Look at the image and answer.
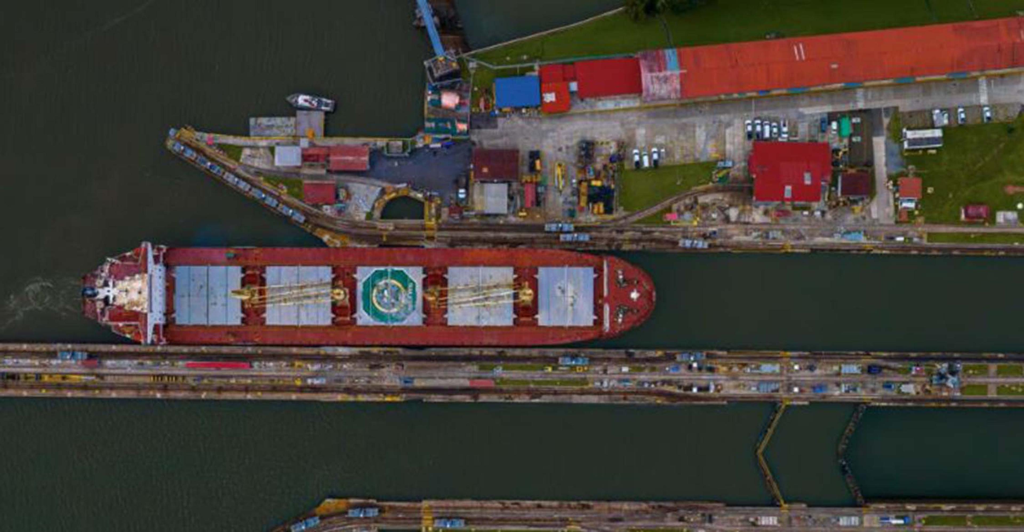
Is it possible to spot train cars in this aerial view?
Yes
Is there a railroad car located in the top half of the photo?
Yes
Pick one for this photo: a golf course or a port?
port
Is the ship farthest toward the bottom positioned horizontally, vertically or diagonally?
horizontally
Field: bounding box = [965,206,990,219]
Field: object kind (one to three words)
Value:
shed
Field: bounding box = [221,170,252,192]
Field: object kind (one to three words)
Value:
rail car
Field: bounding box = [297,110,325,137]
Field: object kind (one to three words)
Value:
pier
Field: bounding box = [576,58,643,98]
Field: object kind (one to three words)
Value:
building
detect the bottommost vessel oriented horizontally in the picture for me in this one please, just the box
[82,242,655,346]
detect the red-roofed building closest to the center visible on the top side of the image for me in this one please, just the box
[475,149,518,181]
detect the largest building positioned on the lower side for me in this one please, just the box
[937,362,967,391]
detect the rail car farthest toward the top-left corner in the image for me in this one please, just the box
[168,137,199,158]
